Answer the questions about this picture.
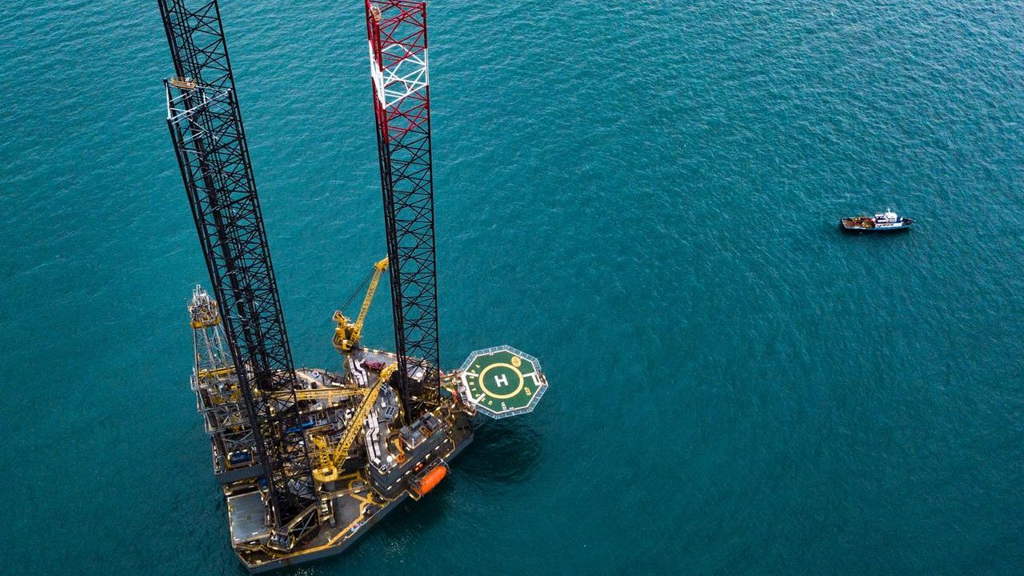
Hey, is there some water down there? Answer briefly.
Yes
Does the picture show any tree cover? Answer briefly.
No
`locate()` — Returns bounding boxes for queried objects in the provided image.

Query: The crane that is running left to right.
[256,386,366,435]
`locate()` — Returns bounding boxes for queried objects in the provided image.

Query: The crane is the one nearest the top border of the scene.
[330,260,387,374]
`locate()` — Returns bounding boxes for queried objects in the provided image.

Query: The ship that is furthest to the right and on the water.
[841,205,915,231]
